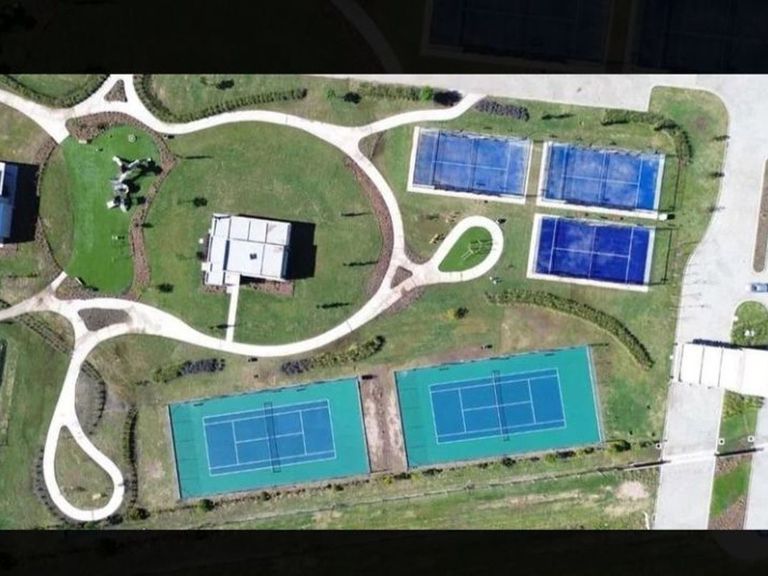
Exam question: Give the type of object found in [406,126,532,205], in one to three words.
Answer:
sports court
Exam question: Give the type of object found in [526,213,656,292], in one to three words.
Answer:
sports court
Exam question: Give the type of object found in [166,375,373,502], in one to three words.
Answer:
tennis court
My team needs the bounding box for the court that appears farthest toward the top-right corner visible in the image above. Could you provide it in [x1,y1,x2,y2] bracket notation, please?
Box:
[537,141,665,218]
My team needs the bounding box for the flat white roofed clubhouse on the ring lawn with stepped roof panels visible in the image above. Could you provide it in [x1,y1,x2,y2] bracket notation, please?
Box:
[205,214,292,285]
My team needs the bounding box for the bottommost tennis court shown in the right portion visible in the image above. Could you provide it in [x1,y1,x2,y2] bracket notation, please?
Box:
[392,343,604,472]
